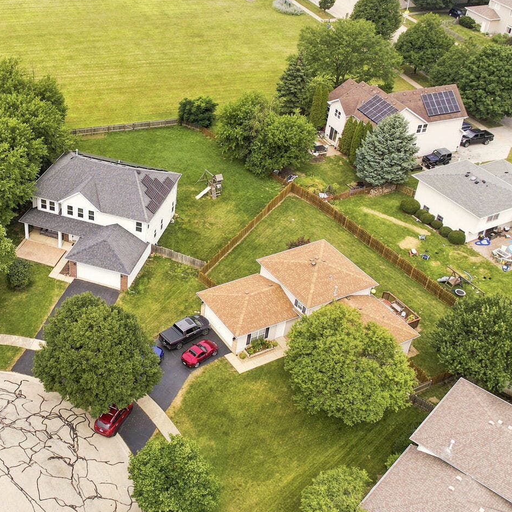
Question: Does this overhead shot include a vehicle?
Yes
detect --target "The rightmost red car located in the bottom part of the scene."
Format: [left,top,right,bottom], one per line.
[176,343,222,370]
